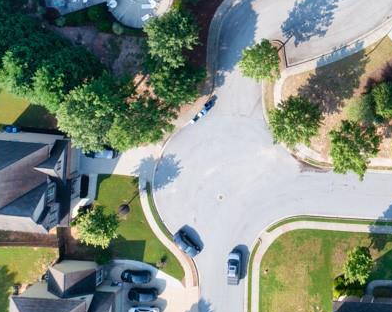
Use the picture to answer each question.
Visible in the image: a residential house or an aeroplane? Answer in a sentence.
The image shows a residential house.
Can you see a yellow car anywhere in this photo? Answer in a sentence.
No, the scene contains no yellow car.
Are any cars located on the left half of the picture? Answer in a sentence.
Yes, looking on the left half of the picture, one can make out a car.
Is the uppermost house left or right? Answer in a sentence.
The uppermost house sits on the left side.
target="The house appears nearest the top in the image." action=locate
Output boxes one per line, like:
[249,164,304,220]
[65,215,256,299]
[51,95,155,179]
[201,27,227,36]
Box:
[0,132,82,251]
